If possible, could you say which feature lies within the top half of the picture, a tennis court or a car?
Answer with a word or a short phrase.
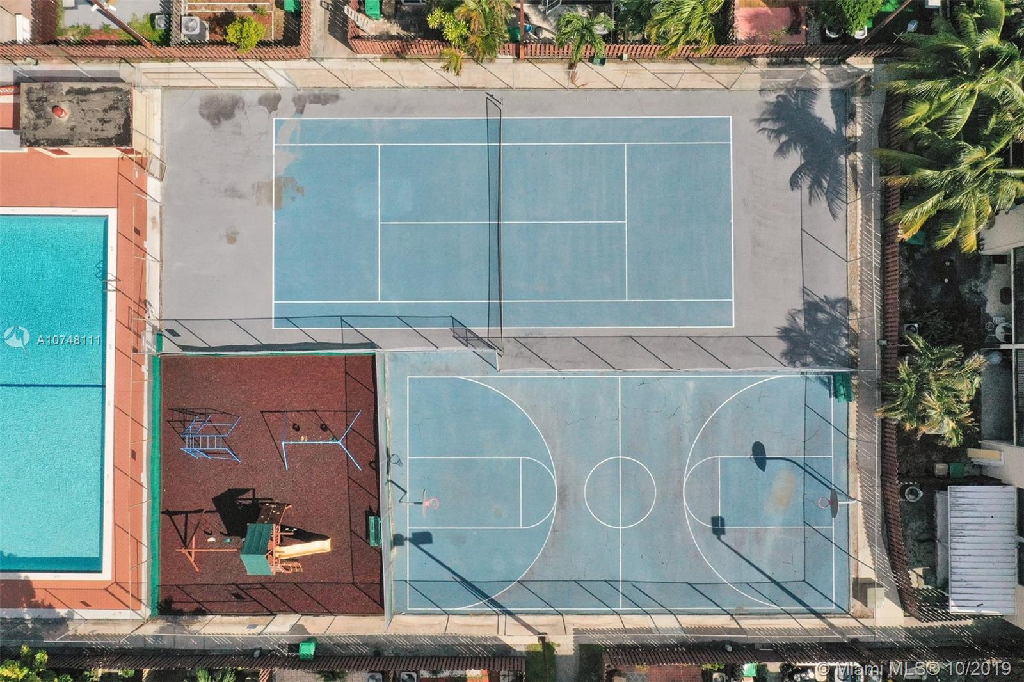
tennis court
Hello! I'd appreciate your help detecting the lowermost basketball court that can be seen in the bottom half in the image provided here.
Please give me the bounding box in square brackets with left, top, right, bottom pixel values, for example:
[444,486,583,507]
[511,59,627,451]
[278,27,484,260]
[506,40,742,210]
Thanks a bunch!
[389,354,849,613]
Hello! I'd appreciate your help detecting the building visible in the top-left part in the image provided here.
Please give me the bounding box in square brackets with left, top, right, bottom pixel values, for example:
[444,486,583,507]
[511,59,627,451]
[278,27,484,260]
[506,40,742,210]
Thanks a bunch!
[21,82,154,159]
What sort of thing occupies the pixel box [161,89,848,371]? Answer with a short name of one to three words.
tennis court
